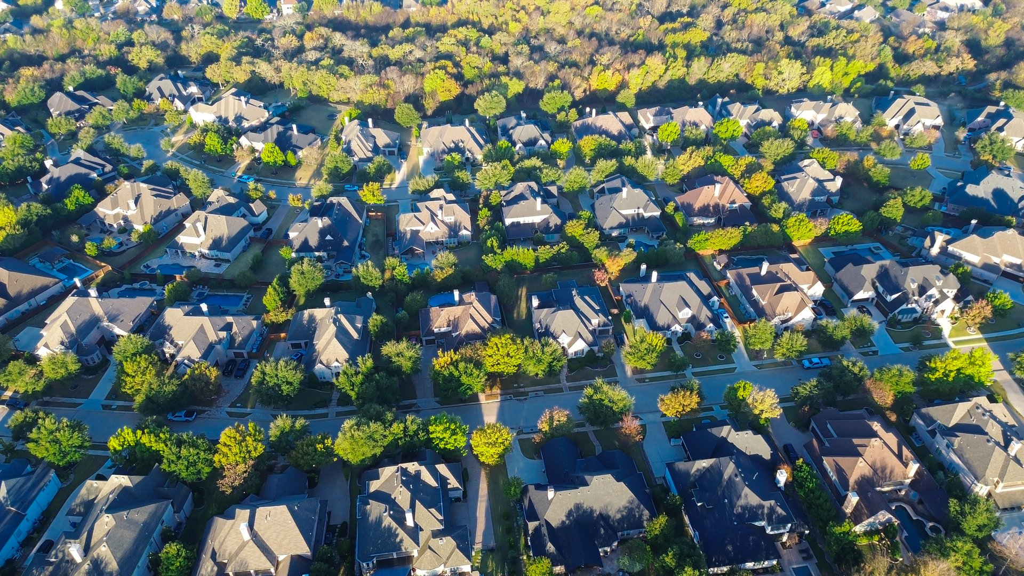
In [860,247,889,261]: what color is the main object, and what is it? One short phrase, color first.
blue swimming pool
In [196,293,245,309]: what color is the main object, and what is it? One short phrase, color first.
blue swimming pool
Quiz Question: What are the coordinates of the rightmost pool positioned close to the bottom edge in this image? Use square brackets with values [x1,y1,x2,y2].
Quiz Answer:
[893,506,950,552]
